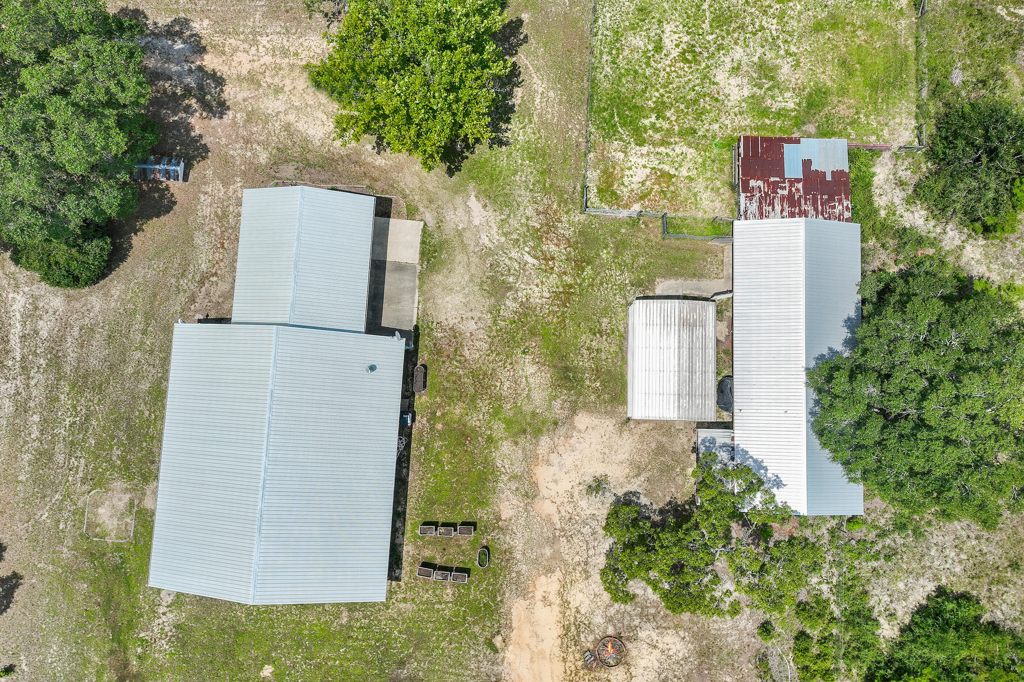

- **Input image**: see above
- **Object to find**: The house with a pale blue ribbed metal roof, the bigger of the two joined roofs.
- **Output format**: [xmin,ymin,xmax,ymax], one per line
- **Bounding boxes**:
[147,322,406,607]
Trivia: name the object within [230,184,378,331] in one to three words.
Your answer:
building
